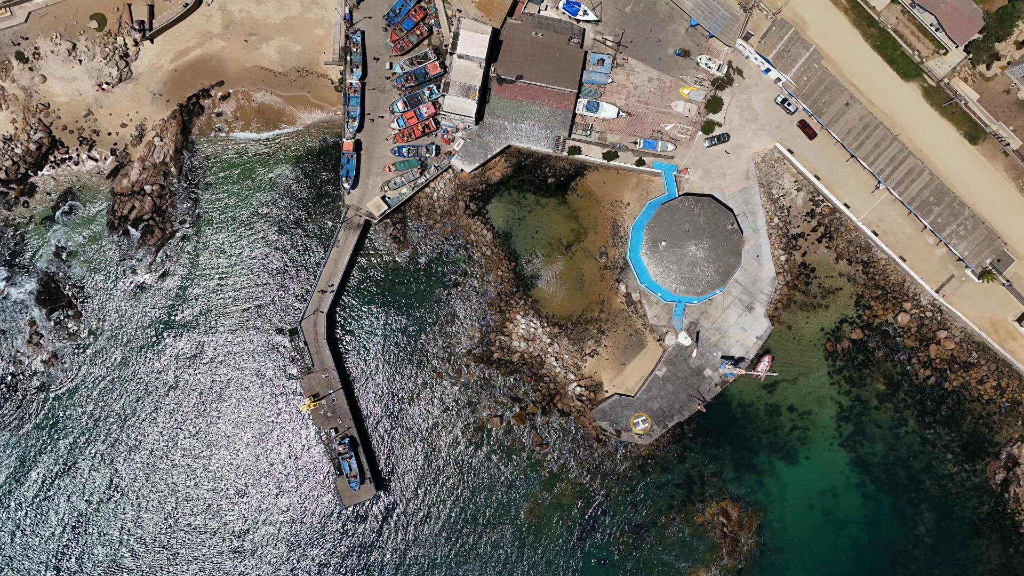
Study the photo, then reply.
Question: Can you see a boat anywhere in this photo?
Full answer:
Yes, there's a boat here.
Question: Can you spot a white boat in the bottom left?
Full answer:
No, looking in the bottom left, there is no white boat.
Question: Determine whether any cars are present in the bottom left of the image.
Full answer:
No, no car appears in the bottom left of the image.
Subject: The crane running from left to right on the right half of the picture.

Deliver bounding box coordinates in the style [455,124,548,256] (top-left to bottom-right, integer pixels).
[715,360,778,378]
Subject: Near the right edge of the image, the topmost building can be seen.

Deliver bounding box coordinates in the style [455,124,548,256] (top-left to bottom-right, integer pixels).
[904,0,986,48]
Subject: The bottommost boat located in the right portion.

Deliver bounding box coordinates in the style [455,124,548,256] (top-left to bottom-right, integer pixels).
[752,354,772,381]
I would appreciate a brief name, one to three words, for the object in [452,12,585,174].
building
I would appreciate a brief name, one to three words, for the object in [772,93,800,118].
car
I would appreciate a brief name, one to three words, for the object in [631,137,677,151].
boat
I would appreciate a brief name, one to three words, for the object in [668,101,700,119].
boat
